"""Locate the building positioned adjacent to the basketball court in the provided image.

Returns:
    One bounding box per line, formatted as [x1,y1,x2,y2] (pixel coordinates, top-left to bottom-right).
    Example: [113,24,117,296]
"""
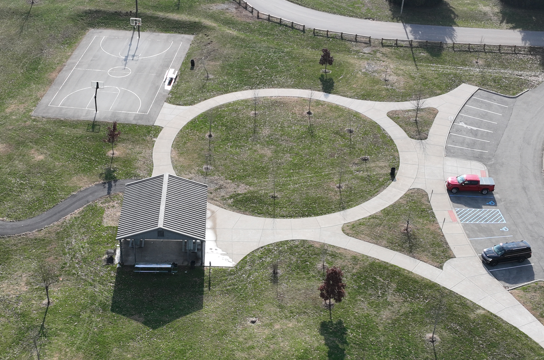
[116,171,208,263]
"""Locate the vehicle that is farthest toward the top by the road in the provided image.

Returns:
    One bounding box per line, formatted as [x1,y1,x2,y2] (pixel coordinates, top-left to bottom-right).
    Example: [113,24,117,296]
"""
[445,174,495,194]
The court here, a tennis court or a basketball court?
basketball court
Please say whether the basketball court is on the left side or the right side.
left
